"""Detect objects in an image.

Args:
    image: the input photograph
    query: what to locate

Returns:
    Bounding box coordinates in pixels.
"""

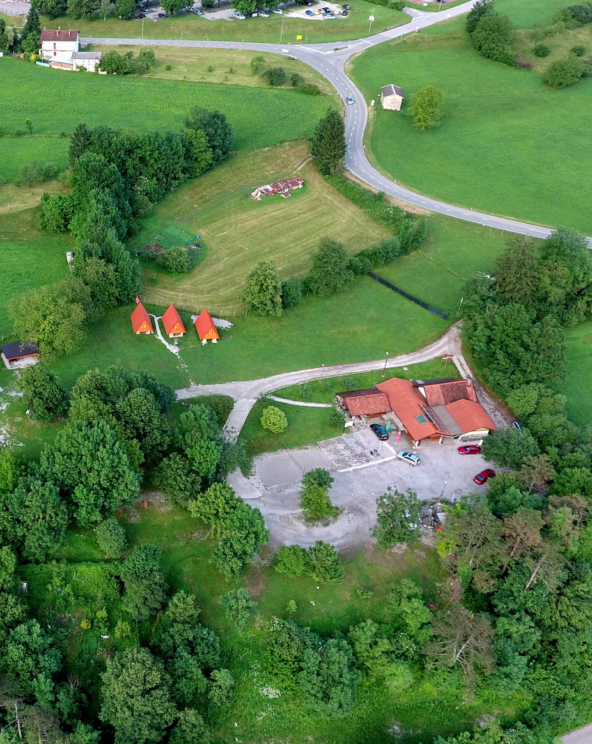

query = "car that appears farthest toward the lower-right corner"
[472,467,494,485]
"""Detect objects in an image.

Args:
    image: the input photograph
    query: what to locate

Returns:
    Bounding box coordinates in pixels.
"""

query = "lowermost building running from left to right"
[337,373,502,453]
